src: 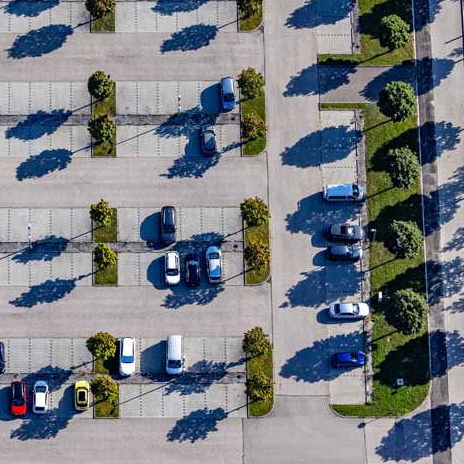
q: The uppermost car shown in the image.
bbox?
[220,79,237,111]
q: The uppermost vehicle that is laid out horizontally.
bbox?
[324,183,365,203]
